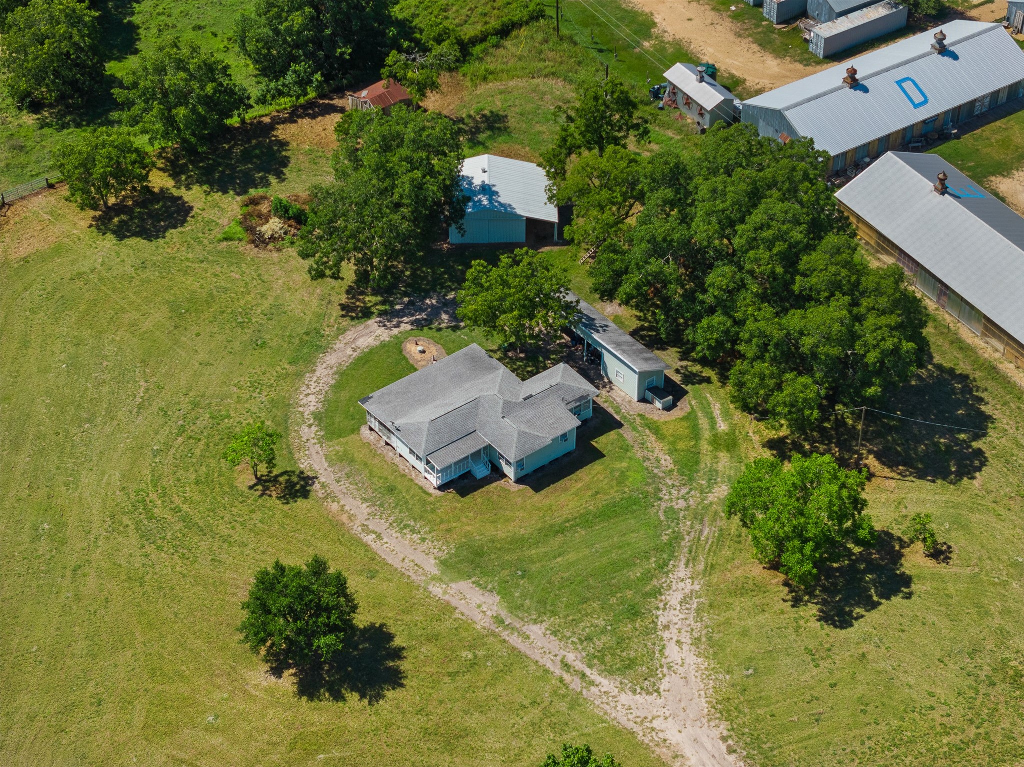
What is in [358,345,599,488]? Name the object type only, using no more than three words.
house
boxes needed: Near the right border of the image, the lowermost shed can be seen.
[832,152,1024,367]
